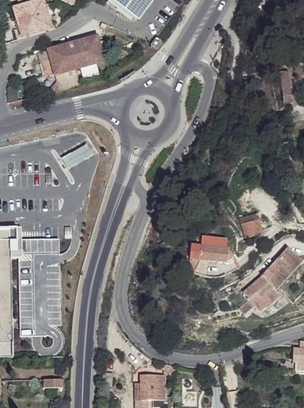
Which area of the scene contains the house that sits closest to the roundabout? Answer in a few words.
top left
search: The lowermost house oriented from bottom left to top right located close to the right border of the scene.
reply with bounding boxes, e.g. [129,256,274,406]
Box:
[240,247,304,314]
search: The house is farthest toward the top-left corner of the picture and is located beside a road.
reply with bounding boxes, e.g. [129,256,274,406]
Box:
[12,0,54,35]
